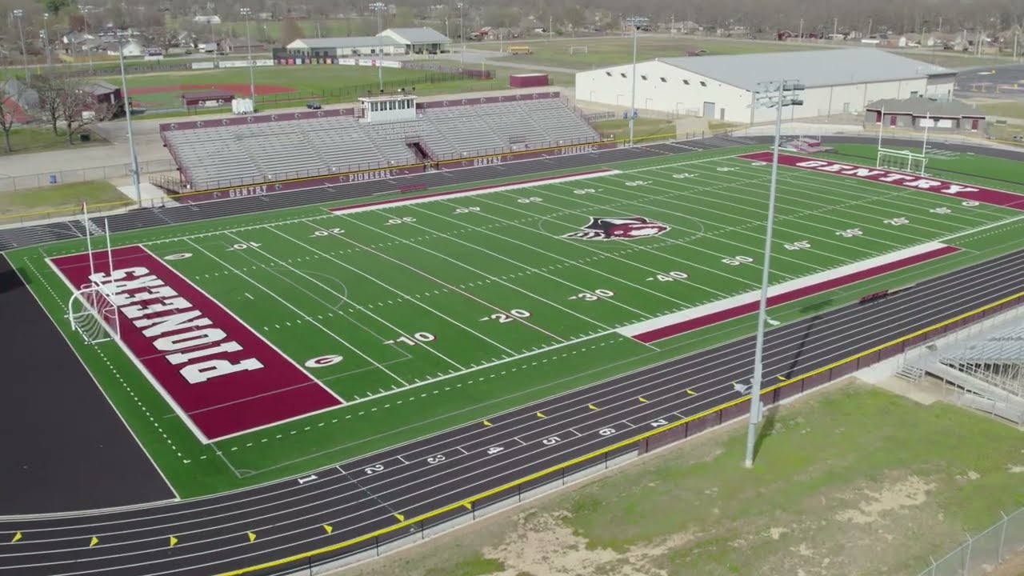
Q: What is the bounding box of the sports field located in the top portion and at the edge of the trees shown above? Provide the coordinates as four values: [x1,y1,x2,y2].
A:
[512,38,852,67]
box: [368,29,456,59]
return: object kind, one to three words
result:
building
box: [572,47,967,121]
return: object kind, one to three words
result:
building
